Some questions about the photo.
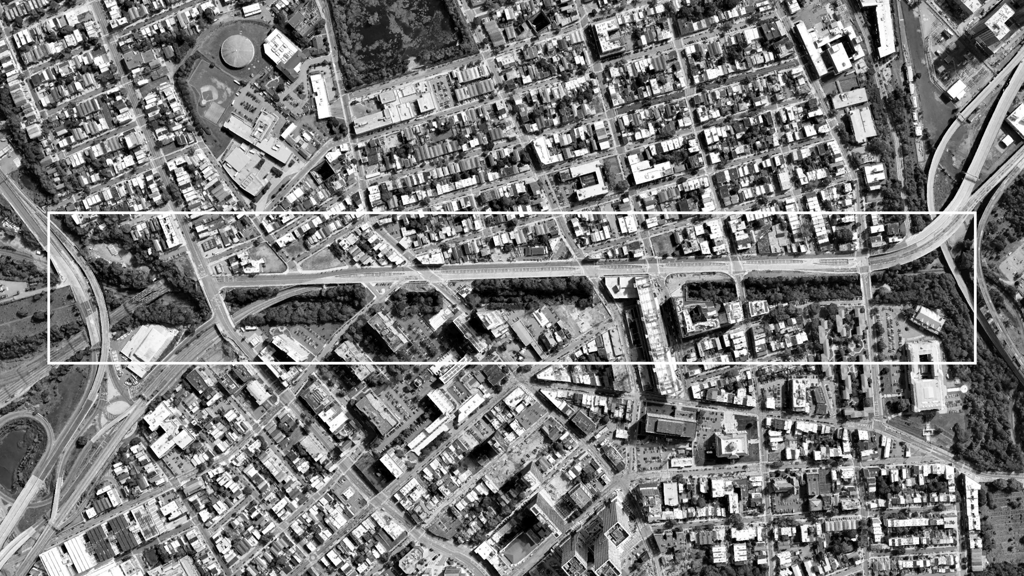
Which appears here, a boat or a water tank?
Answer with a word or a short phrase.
water tank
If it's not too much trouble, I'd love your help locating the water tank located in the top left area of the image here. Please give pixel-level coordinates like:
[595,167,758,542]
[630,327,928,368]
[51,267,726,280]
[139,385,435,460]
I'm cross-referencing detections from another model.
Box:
[221,34,256,69]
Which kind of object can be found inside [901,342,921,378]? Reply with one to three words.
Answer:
building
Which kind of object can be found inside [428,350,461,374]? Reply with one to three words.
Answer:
building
